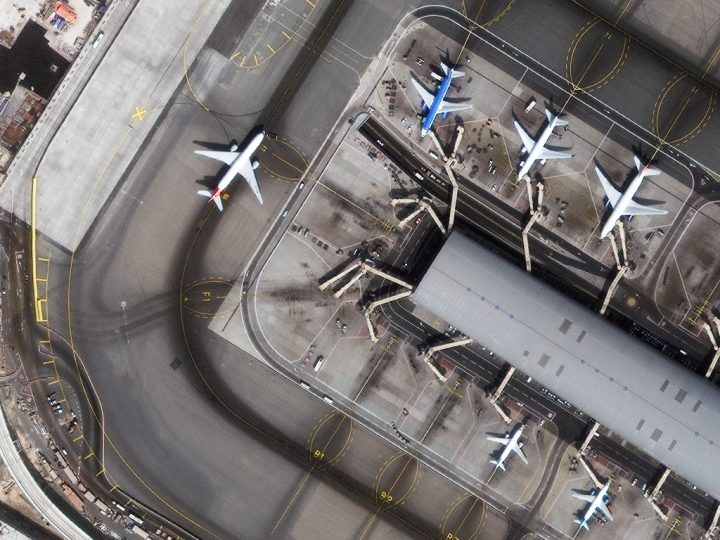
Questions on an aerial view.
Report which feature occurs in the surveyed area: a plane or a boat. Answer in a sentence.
The image shows a plane.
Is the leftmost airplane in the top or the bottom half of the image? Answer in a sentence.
The leftmost airplane is in the top half of the image.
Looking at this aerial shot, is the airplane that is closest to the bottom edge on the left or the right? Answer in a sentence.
You can find the airplane that is closest to the bottom edge on the right side of the picture.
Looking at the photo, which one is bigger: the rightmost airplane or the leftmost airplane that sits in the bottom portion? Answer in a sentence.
It is the rightmost airplane that is larger, not the leftmost airplane that sits in the bottom portion.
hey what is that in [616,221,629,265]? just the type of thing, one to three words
jet bridge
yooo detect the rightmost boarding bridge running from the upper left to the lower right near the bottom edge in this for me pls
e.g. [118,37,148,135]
[648,498,669,523]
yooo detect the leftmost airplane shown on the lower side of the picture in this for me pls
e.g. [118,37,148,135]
[487,426,528,472]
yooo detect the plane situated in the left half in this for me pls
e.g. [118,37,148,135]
[194,132,265,214]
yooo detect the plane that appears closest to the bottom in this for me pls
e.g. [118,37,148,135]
[572,482,613,533]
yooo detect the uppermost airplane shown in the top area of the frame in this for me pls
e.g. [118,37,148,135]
[413,61,476,136]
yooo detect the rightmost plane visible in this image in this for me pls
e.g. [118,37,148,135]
[597,155,671,238]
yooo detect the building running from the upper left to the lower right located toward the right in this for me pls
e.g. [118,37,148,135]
[411,229,720,499]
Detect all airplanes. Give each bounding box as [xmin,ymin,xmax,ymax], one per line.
[487,426,528,472]
[513,110,576,181]
[572,482,613,533]
[597,155,671,238]
[413,61,476,136]
[194,132,265,214]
